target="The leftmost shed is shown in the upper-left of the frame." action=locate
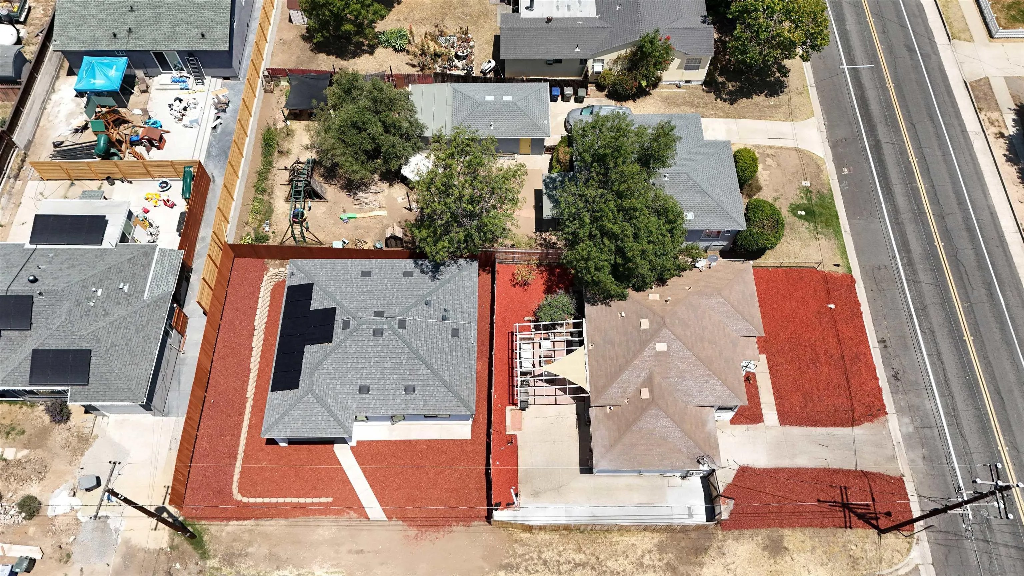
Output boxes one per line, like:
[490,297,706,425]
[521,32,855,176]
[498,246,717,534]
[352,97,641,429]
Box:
[0,45,37,93]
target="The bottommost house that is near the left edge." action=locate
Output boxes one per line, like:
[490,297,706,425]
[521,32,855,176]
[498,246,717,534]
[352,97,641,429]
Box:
[0,244,198,416]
